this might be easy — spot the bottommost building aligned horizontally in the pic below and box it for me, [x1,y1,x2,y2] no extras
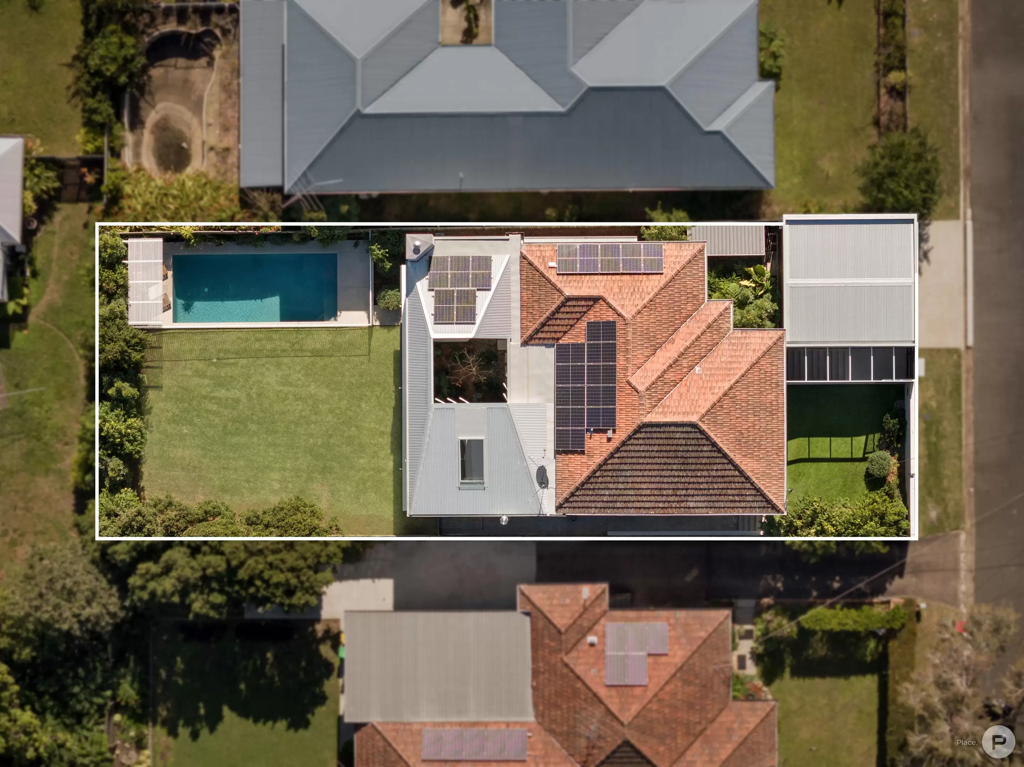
[344,580,780,767]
